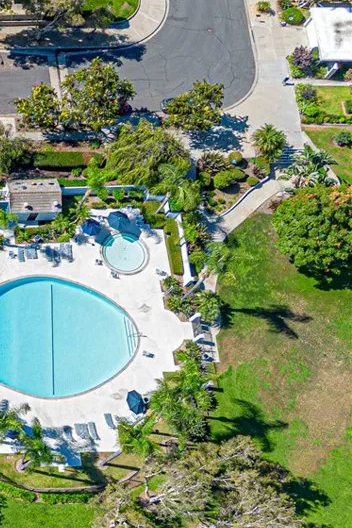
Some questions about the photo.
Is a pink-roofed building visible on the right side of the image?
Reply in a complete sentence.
No, looking on the right side of the image, there is no pink-roofed building.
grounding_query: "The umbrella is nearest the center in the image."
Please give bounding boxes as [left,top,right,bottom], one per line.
[106,212,129,232]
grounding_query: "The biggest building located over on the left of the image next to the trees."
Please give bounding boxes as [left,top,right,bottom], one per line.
[5,181,63,221]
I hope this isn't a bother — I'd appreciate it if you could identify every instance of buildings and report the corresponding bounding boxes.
[298,7,352,79]
[5,181,63,221]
